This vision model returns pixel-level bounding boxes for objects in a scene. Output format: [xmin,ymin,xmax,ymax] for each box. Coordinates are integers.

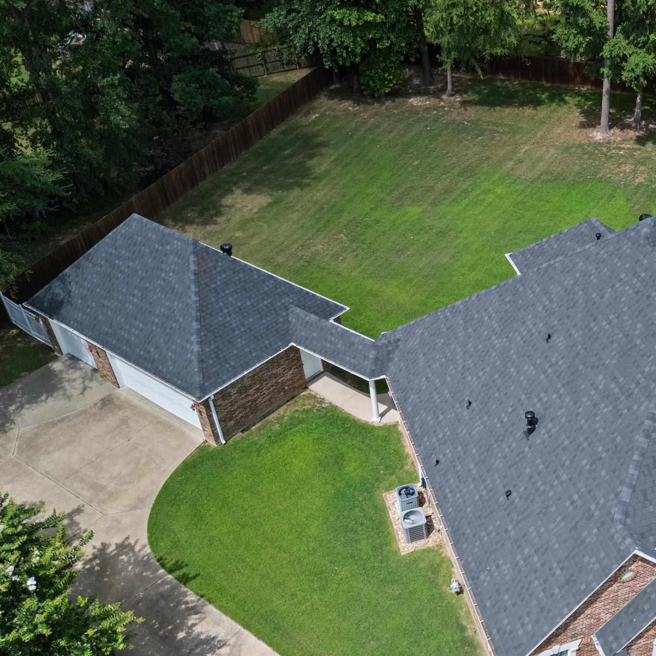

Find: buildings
[370,211,656,656]
[23,214,351,446]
